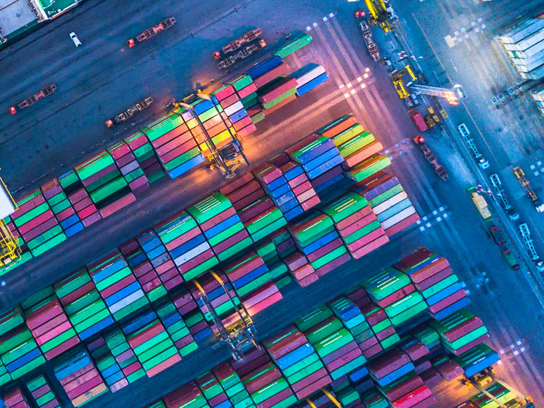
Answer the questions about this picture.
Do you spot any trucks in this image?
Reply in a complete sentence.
Yes, the frame does contain a truck.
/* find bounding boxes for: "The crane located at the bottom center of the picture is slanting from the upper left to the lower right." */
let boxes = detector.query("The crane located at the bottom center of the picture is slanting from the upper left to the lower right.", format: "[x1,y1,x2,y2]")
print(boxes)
[184,264,265,364]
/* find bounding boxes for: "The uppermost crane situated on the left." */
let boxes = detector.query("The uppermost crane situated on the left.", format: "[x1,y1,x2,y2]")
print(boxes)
[168,90,253,179]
